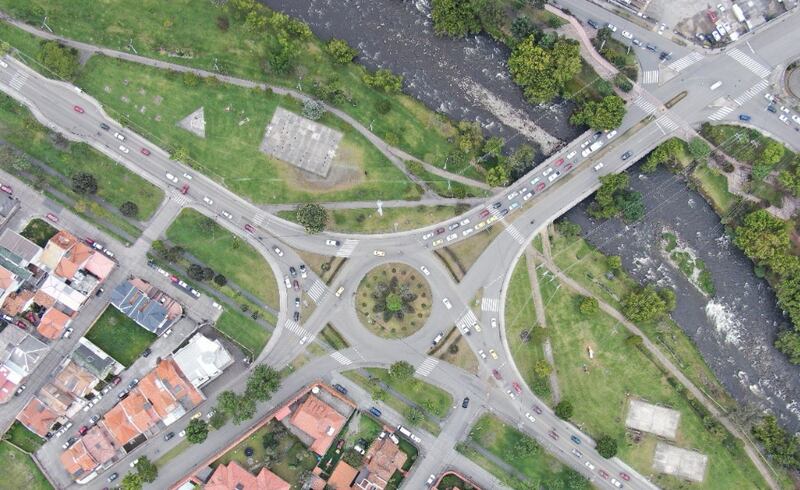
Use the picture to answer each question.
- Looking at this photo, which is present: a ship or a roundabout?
roundabout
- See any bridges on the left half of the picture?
No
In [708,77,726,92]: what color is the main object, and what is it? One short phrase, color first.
white vehicle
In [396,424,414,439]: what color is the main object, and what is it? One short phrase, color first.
white vehicle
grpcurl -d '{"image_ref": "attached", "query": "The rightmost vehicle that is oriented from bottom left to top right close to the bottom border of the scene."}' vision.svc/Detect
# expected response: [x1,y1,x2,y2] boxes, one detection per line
[425,471,438,488]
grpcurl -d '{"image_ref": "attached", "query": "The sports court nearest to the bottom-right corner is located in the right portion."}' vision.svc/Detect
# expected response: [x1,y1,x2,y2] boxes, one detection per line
[652,443,707,482]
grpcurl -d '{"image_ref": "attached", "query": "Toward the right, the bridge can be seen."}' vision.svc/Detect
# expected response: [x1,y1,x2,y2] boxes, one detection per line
[495,121,658,240]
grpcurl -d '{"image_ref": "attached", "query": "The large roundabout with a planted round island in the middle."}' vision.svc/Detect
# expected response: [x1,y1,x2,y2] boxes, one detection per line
[337,244,451,358]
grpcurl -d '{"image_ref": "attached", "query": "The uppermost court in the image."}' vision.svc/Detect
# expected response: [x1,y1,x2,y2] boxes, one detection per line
[626,399,680,438]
